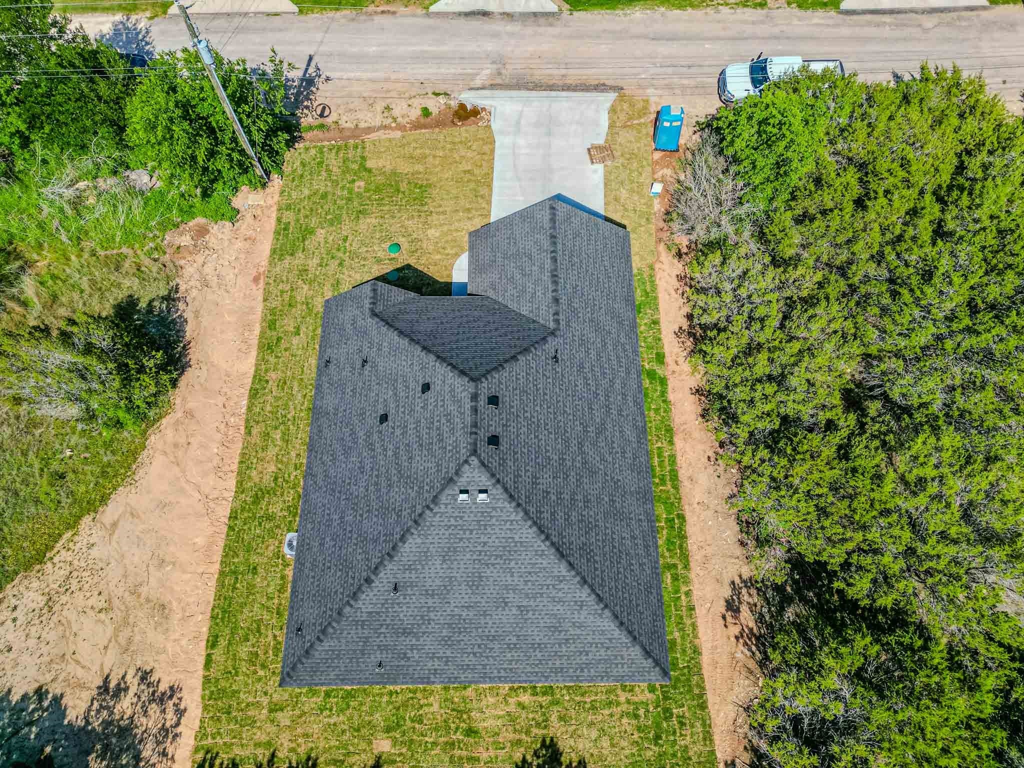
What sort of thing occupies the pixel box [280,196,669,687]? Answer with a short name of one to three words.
house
